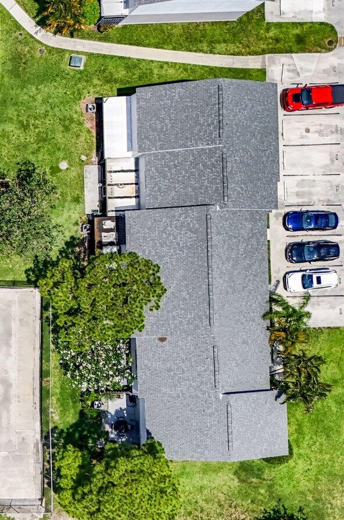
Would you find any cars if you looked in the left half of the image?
No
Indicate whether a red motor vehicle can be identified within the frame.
Yes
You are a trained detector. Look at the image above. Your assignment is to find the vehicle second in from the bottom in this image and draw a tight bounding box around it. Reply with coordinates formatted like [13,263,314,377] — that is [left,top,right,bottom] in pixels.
[282,240,339,264]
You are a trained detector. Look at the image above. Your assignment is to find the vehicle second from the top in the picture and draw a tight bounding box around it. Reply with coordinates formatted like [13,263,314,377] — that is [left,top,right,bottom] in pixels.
[281,209,337,233]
